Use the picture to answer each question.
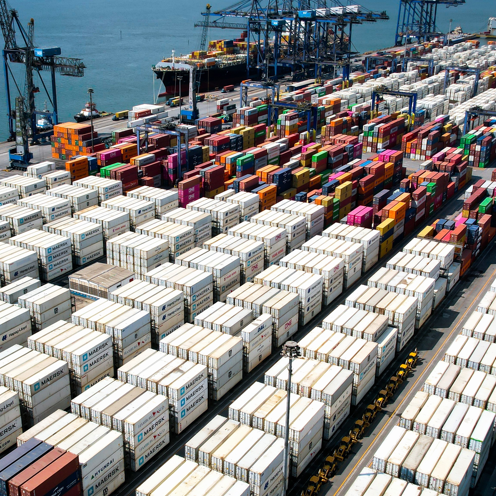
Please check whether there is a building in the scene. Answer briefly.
Yes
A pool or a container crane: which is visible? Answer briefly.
container crane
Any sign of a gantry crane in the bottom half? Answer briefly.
No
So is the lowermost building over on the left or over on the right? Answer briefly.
left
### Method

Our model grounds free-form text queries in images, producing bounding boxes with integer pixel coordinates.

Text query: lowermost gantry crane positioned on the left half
[140,127,198,180]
